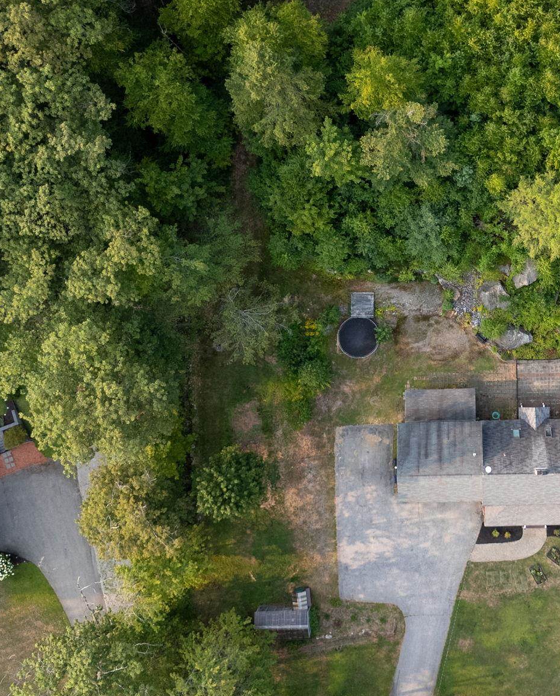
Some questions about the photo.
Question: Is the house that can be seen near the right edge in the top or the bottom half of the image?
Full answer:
The house that can be seen near the right edge is in the bottom half of the image.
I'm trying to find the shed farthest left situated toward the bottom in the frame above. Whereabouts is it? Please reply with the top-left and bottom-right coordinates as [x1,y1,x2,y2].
[254,600,312,638]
